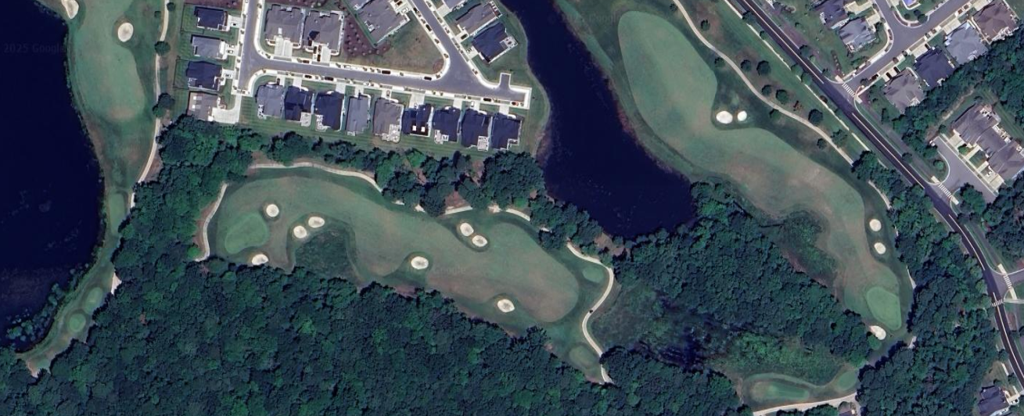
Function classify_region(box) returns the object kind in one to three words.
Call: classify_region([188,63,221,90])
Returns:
house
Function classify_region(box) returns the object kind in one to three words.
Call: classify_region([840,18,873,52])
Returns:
house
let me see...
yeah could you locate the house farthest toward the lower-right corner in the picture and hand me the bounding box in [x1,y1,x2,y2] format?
[979,388,1007,416]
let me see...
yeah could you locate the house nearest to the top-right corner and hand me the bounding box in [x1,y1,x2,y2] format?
[972,0,1010,41]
